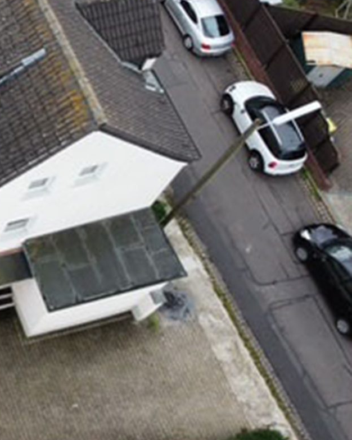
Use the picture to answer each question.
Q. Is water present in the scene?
No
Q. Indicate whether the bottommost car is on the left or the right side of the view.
right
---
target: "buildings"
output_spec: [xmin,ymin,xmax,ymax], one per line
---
[295,32,352,92]
[0,0,201,256]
